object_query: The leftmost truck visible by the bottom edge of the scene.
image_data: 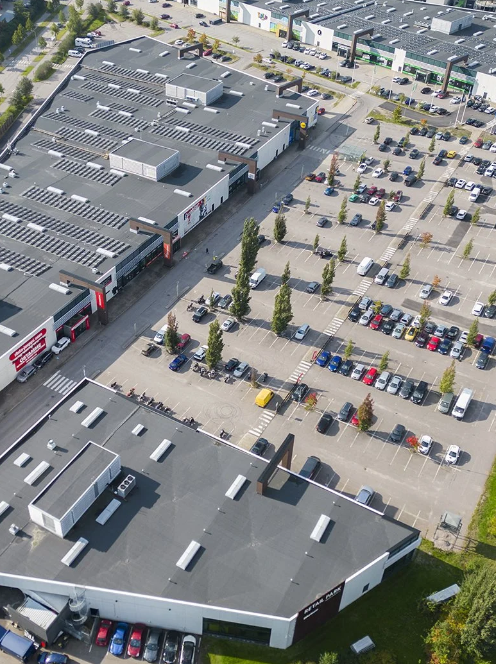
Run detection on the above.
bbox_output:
[0,627,41,664]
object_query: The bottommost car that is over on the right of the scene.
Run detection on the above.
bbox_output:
[357,485,375,507]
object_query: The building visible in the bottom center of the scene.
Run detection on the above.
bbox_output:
[0,380,425,650]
